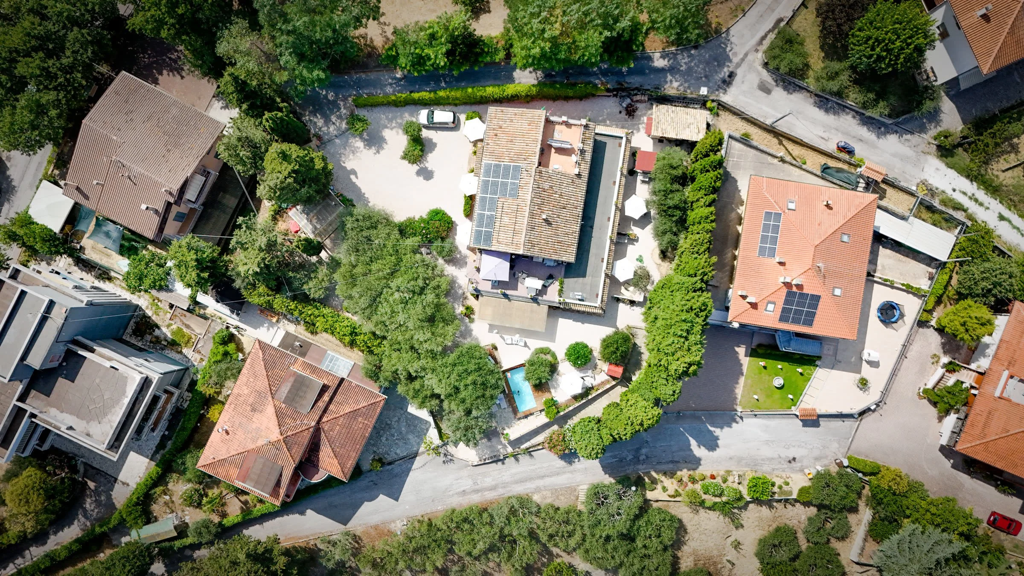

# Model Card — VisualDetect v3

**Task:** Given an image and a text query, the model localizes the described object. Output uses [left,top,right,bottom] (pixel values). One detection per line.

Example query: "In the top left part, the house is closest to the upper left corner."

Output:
[55,71,242,242]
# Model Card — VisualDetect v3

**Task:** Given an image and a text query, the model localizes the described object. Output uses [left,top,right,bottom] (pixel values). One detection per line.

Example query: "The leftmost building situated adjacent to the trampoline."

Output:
[718,174,879,355]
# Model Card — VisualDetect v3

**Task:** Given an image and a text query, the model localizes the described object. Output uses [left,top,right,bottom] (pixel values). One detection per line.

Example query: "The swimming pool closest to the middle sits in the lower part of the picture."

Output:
[502,363,553,419]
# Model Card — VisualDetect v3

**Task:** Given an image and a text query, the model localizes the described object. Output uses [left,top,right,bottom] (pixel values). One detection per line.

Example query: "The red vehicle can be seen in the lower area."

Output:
[988,513,1024,536]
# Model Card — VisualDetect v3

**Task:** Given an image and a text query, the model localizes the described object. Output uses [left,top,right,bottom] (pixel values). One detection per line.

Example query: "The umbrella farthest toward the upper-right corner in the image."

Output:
[624,195,646,220]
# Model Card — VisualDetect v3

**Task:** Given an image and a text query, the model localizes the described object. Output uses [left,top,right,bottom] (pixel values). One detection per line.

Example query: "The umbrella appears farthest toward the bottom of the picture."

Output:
[558,370,586,397]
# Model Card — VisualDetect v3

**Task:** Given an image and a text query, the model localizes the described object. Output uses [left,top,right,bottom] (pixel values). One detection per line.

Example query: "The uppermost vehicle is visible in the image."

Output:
[417,106,457,127]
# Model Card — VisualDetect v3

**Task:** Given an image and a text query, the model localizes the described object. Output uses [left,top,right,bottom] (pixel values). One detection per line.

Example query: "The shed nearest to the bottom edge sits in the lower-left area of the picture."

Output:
[131,513,182,538]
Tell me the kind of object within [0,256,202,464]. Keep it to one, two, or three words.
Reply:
building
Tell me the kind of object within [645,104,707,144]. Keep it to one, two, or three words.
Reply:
shed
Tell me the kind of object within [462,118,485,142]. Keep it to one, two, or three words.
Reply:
umbrella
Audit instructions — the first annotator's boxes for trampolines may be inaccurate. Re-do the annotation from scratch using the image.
[877,299,914,326]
